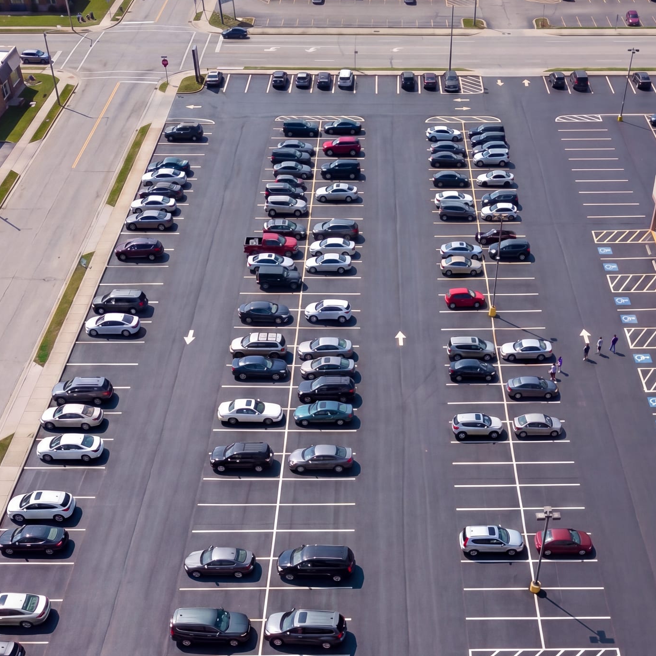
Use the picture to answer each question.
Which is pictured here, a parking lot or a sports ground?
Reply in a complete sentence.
The area seen from above is a parking lot.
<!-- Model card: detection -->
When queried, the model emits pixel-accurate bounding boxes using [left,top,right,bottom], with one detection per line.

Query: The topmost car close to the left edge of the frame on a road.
[17,48,49,64]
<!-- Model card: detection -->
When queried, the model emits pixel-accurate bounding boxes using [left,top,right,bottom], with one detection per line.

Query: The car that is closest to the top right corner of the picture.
[620,6,639,24]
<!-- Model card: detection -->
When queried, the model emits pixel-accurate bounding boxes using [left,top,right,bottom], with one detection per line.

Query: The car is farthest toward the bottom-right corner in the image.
[529,526,594,555]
